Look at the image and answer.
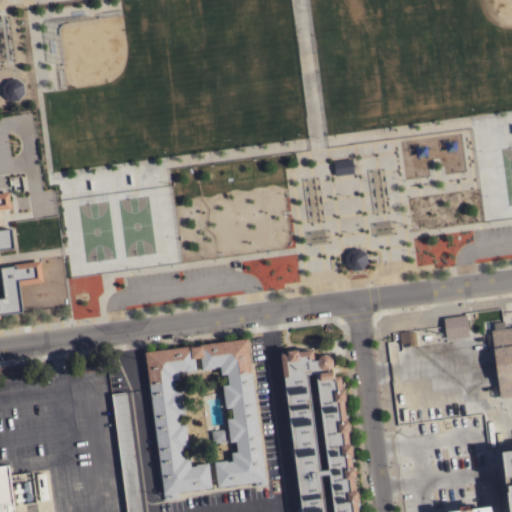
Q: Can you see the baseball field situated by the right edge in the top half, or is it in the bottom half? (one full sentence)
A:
The baseball field situated by the right edge sits in the top half of the picture.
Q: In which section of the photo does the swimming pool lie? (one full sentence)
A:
You can find the swimming pool in the bottom area of the picture.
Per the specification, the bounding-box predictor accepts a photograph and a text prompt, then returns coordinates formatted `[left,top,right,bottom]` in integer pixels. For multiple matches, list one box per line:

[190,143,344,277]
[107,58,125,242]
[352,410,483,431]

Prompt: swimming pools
[203,394,226,431]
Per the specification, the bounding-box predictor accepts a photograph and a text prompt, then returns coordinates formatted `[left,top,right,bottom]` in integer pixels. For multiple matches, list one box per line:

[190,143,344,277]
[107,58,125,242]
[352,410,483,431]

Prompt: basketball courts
[80,202,116,262]
[502,148,512,206]
[120,197,156,258]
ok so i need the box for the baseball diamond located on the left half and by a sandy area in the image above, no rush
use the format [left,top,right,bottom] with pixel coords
[46,0,308,172]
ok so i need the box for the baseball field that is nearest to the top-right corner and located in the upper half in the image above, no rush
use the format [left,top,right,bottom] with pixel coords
[310,0,512,138]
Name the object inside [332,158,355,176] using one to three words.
building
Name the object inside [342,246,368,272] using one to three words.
building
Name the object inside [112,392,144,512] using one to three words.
shed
